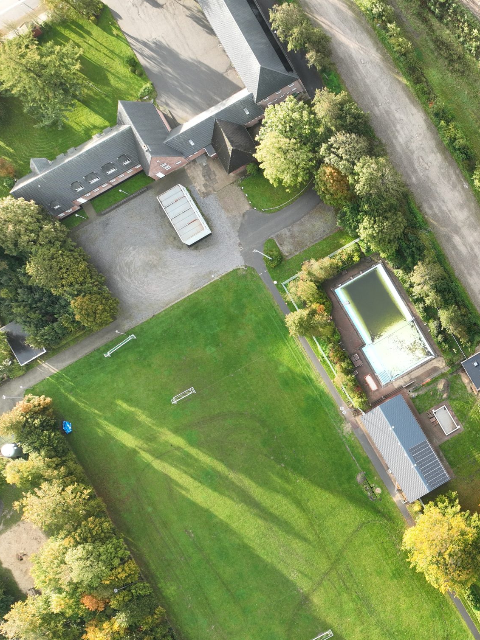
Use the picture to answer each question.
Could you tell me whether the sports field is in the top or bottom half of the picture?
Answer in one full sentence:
Seen from above, the sports field lies in the bottom half of the view.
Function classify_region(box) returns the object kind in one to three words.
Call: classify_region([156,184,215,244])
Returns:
building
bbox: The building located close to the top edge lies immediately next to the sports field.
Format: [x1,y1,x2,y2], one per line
[8,0,305,225]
